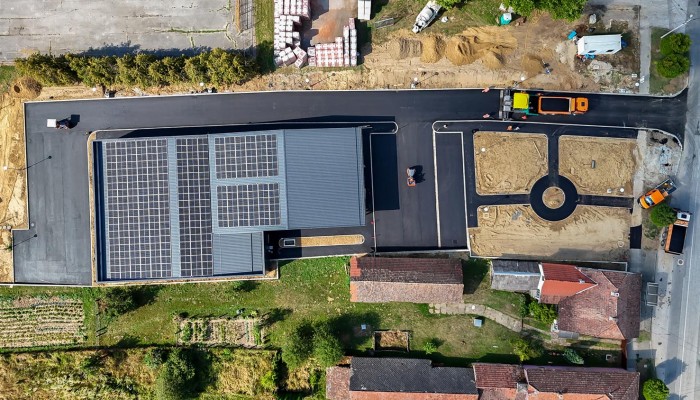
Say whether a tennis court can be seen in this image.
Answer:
No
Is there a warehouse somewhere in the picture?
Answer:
Yes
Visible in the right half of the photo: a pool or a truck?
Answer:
truck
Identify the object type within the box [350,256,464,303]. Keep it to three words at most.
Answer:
barn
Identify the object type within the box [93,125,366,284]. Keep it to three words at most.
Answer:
warehouse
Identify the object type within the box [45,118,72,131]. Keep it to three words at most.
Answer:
vehicle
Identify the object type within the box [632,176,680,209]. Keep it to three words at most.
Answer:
truck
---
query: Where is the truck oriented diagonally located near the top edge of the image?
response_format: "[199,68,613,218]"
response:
[409,0,441,34]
